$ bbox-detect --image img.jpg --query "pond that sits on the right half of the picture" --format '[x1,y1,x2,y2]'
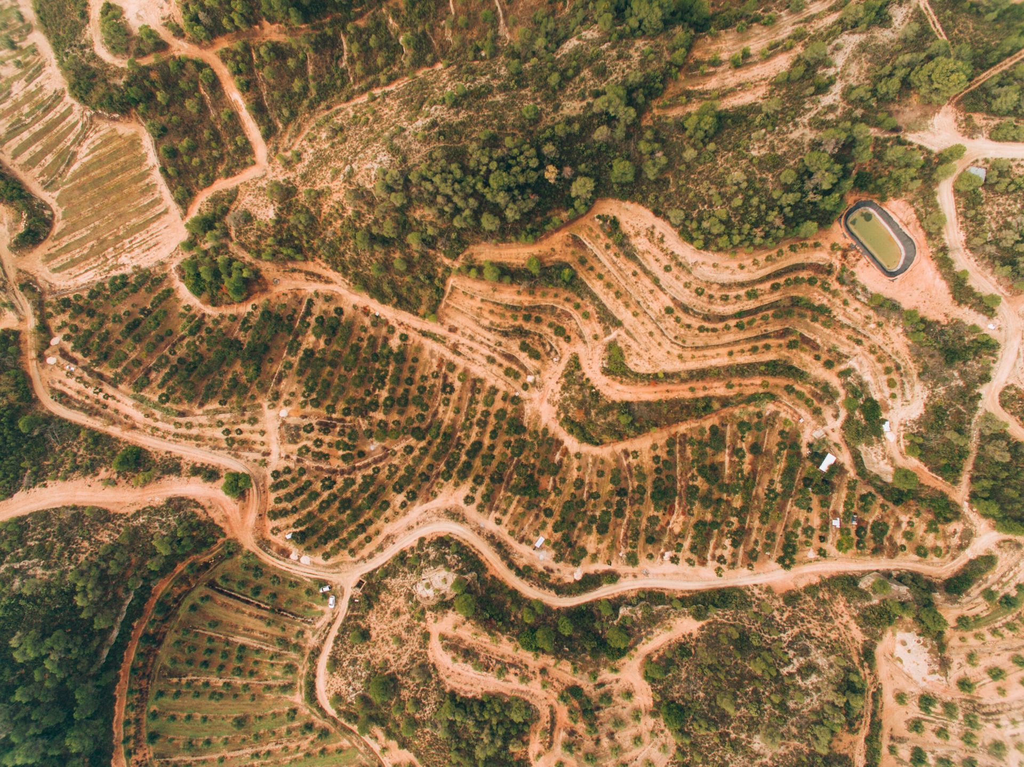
[843,200,916,277]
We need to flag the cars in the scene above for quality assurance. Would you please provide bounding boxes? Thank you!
[320,585,331,592]
[329,595,335,608]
